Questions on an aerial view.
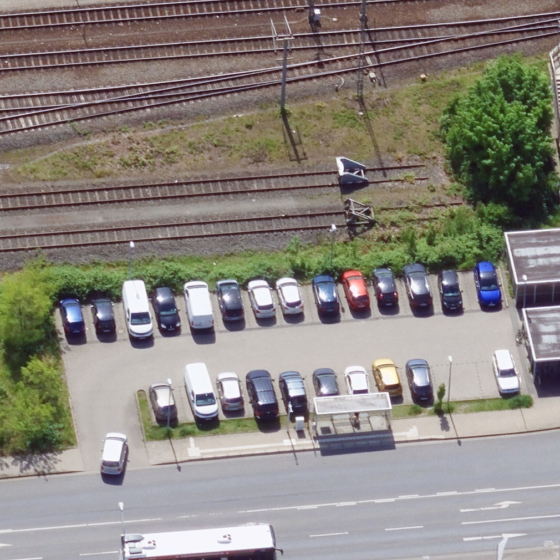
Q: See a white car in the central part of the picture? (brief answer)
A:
Yes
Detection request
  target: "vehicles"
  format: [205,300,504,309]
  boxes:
[90,294,116,333]
[343,268,371,310]
[250,370,281,419]
[281,369,309,415]
[344,366,373,396]
[215,279,244,322]
[436,266,465,310]
[312,367,340,398]
[120,523,288,560]
[153,285,183,330]
[474,261,503,307]
[375,356,404,397]
[405,357,435,403]
[492,343,521,393]
[309,272,340,316]
[121,278,155,339]
[149,379,179,421]
[276,276,304,315]
[58,295,85,334]
[183,285,214,332]
[215,371,245,411]
[102,432,133,478]
[247,278,276,319]
[371,268,399,307]
[186,359,221,421]
[404,262,434,308]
